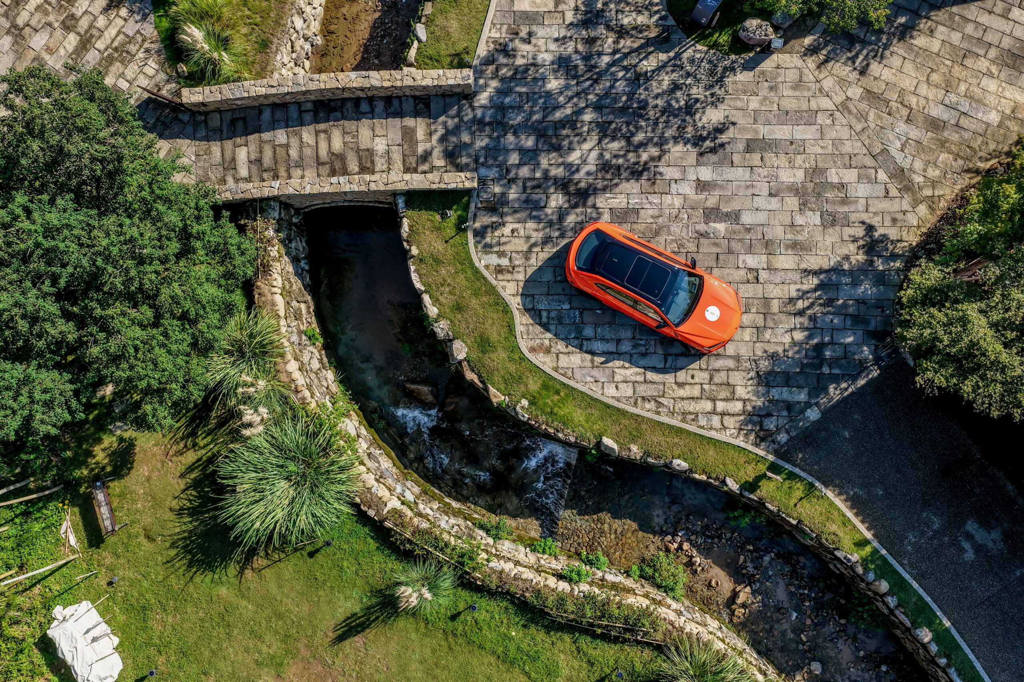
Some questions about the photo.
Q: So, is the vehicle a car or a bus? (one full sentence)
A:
It looks like the vehicle is a car.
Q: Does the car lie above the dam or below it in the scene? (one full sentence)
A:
In the image, the car appears above the dam.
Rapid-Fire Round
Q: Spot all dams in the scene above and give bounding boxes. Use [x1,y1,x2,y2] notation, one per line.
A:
[543,451,581,542]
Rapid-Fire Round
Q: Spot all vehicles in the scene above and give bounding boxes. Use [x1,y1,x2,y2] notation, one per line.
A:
[568,221,740,350]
